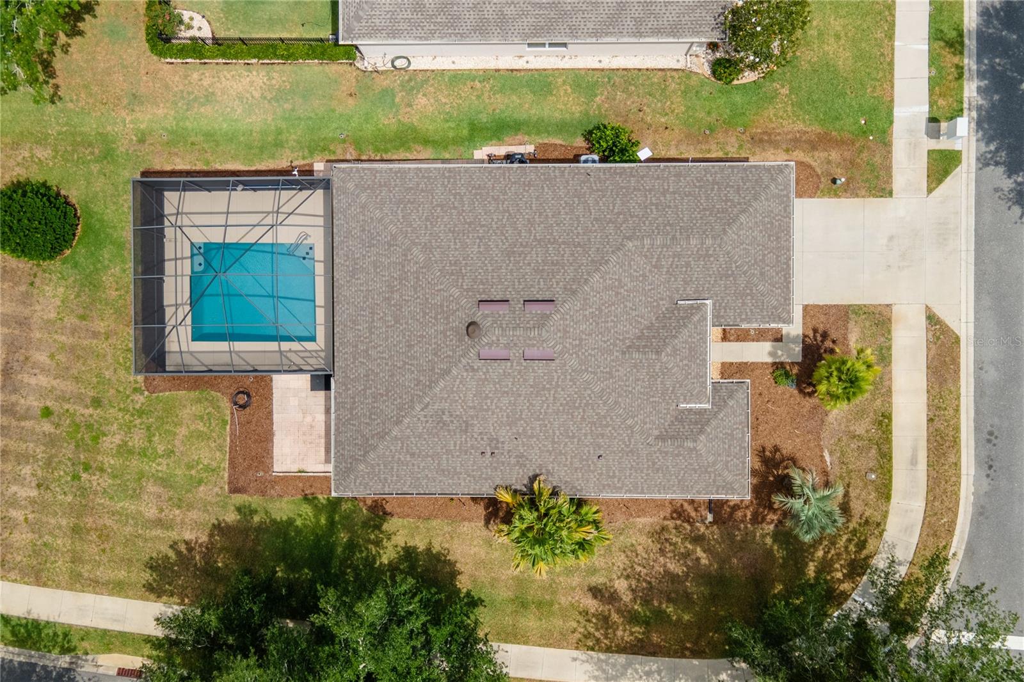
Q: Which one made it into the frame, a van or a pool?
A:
pool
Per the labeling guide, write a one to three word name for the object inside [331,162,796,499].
house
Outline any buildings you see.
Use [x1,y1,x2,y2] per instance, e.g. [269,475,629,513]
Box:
[331,162,796,499]
[338,0,730,56]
